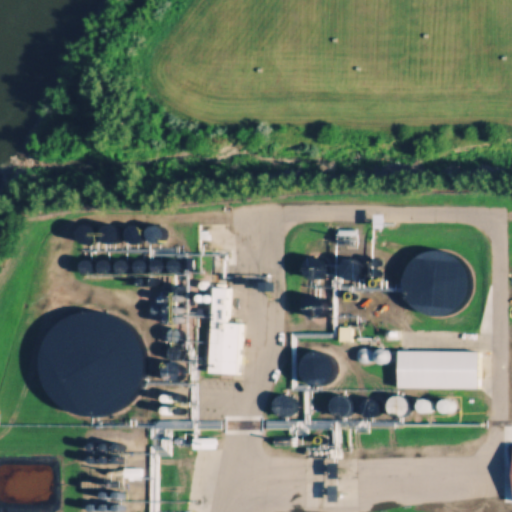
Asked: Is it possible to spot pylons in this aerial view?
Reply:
No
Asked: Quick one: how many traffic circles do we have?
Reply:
zero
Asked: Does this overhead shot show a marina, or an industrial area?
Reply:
industrial area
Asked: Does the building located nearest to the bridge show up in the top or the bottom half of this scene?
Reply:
bottom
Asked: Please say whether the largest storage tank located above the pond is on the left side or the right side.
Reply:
left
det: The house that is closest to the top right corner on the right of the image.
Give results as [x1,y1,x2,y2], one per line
[338,229,360,248]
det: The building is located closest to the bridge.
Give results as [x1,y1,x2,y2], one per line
[208,323,246,374]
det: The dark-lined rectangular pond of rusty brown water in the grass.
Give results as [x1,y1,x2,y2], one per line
[0,456,62,512]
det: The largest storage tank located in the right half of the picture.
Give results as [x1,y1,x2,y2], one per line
[401,246,476,321]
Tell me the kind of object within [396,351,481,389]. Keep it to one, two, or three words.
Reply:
building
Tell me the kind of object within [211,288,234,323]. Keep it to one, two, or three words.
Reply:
building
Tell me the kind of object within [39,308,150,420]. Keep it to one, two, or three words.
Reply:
storage tank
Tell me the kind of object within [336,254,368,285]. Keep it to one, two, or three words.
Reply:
storage tank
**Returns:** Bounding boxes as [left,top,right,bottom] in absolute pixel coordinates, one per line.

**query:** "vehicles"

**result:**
[458,334,476,340]
[234,382,244,392]
[279,332,284,345]
[360,297,372,309]
[272,370,280,382]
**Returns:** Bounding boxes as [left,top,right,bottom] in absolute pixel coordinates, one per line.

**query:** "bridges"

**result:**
[226,416,263,434]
